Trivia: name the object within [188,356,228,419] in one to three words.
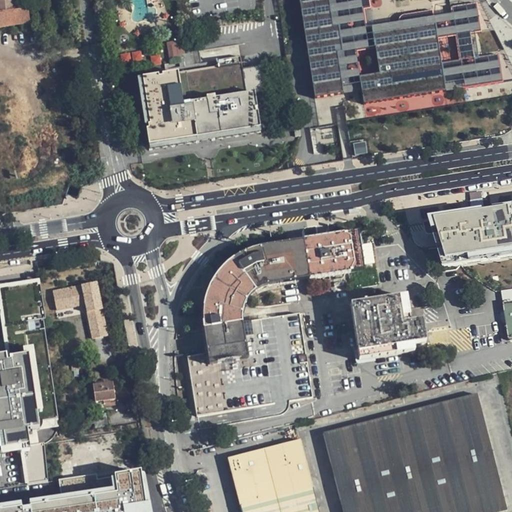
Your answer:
building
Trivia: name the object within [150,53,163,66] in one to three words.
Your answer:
umbrella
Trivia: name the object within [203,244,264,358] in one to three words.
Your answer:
building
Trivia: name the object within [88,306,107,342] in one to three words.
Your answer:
house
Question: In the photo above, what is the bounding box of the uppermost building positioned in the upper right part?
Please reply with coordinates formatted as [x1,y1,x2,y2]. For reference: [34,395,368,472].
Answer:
[298,0,512,128]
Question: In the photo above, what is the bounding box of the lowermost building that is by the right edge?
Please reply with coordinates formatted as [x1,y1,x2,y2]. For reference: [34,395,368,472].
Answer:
[323,394,508,512]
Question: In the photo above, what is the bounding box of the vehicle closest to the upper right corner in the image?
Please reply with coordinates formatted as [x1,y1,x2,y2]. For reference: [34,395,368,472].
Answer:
[494,2,508,18]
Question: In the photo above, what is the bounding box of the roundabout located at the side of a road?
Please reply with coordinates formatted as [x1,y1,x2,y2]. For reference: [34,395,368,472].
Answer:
[98,190,164,253]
